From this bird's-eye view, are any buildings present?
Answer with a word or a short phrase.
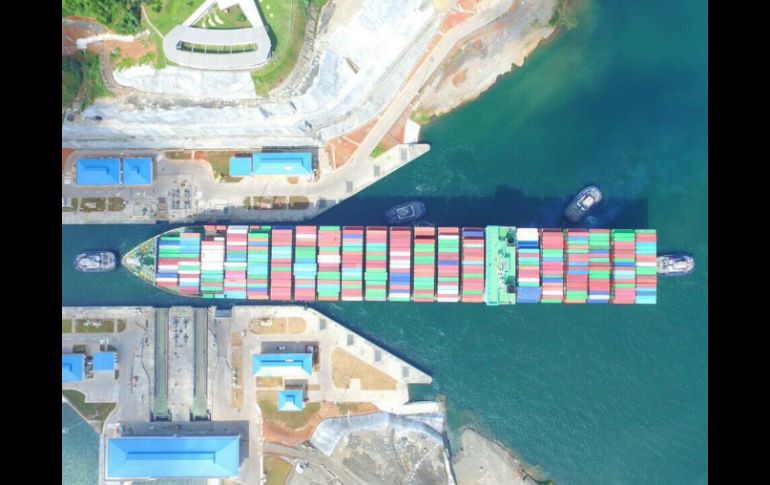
Yes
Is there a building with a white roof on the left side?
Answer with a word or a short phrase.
Yes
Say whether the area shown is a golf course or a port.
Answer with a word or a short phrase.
port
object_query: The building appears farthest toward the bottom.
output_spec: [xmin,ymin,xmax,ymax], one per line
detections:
[107,434,242,478]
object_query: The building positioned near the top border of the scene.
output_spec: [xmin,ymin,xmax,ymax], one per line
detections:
[162,0,273,73]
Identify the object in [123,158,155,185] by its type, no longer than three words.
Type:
building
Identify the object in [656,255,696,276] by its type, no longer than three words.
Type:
boat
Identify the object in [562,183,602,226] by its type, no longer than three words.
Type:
boat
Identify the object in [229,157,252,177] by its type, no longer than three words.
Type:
building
